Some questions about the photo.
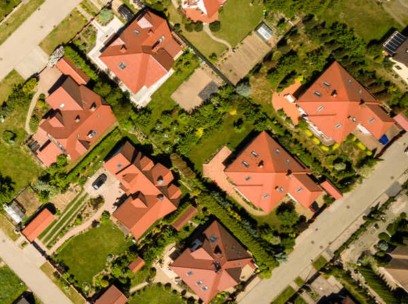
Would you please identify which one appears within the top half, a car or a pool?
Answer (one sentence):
The one visible within the top half is a car.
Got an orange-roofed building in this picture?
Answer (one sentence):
Yes, an orange-roofed building appears in the view.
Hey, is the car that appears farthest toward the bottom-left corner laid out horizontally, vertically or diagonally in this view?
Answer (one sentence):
In this picture, the car that appears farthest toward the bottom-left corner is oriented diagonally.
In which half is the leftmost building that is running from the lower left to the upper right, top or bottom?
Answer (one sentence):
The bottom half of the photo is where the leftmost building that is running from the lower left to the upper right is.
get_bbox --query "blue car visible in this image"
[372,134,393,148]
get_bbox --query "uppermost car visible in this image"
[115,0,137,24]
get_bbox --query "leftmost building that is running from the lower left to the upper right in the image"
[21,208,55,242]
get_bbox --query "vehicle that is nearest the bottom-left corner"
[88,170,110,193]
